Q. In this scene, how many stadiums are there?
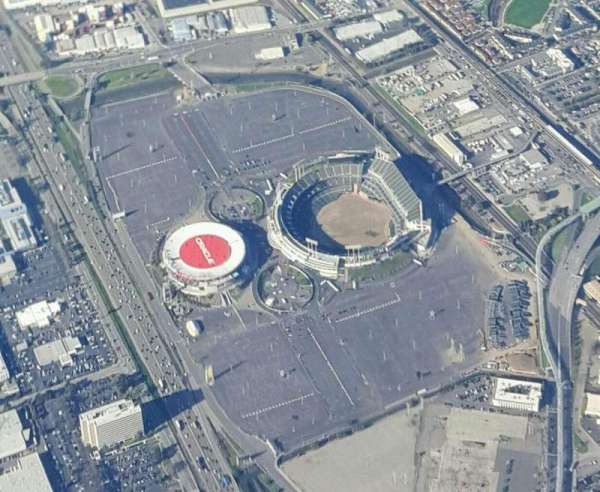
two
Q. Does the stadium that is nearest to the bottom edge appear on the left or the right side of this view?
left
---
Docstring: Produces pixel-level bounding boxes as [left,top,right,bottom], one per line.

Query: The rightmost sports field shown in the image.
[504,0,549,29]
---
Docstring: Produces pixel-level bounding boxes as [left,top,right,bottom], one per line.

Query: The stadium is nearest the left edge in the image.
[155,221,250,307]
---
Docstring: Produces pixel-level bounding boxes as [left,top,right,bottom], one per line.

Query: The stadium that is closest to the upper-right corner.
[265,145,432,279]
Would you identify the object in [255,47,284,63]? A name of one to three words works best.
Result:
shed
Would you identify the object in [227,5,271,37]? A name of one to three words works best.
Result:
building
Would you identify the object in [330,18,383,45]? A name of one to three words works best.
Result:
building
